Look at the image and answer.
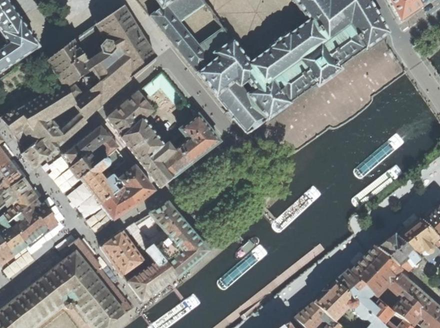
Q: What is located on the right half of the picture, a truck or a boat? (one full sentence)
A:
You can see a boat on the right half of the picture.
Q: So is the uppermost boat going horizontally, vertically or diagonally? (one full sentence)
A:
Seen from above, the uppermost boat lies diagonally.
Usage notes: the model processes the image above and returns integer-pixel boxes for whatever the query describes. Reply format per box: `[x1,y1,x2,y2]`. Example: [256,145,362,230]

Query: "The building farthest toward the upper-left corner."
[0,0,42,78]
